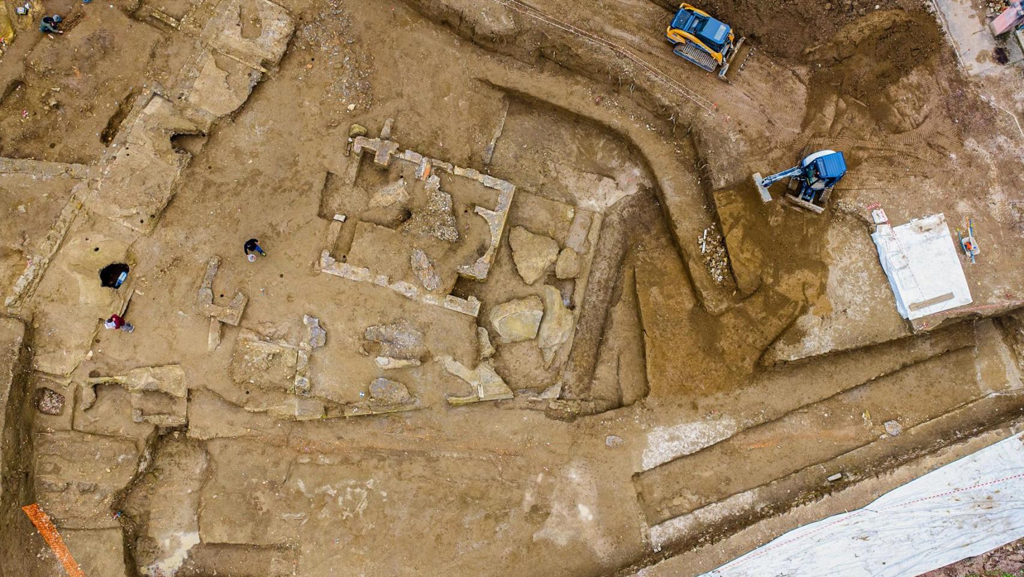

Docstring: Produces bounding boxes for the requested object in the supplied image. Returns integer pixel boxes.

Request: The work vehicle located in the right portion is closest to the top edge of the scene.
[658,0,755,89]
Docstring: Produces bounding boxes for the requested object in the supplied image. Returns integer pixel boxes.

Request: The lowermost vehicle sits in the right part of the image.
[751,143,855,214]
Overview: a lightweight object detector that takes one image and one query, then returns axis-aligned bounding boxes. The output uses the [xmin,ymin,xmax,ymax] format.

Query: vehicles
[658,0,755,89]
[751,143,855,214]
